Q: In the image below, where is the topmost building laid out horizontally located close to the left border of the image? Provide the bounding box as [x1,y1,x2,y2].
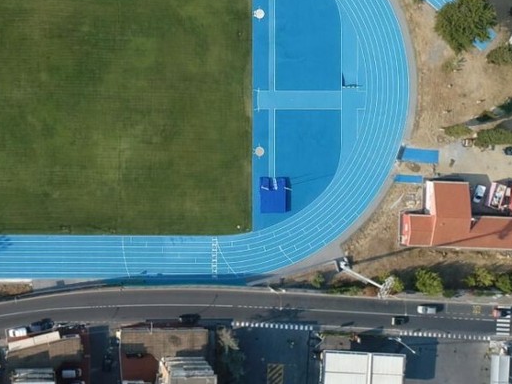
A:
[7,331,84,371]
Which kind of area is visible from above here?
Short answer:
sports ground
